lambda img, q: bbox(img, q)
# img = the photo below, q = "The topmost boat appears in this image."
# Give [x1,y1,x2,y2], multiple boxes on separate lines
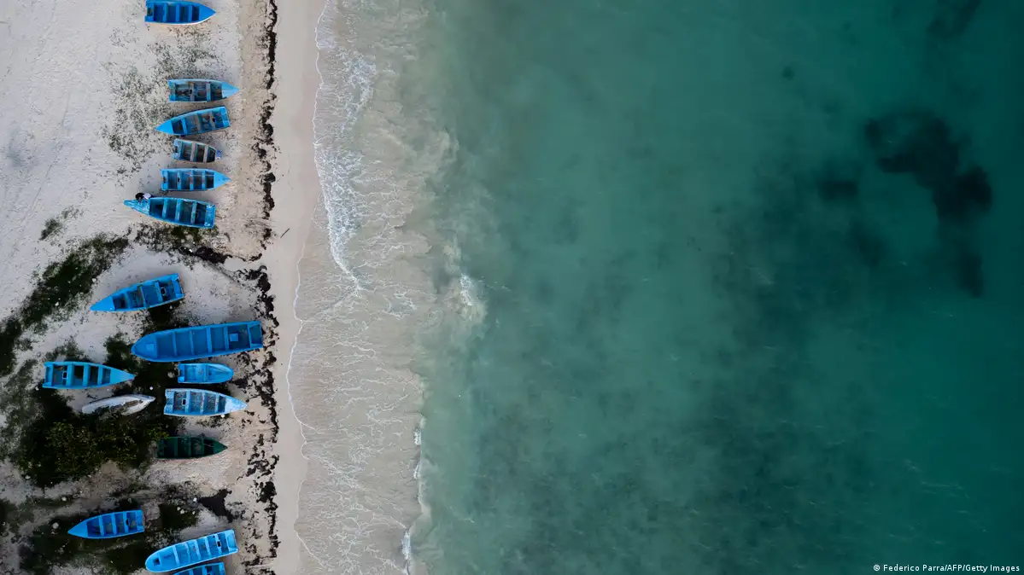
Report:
[145,0,216,25]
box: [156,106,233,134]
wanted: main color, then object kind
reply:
blue boat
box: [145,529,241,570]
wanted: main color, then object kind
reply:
blue boat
